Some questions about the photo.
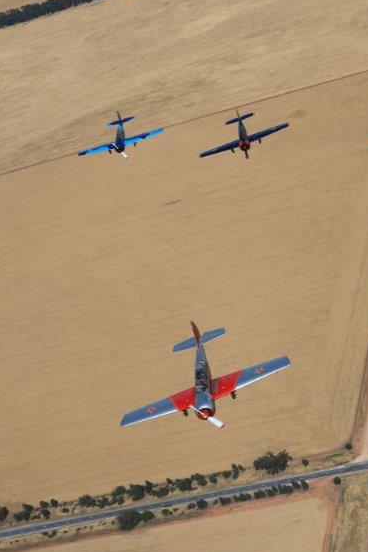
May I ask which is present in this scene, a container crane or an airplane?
airplane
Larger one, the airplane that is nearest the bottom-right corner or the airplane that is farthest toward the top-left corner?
the airplane that is nearest the bottom-right corner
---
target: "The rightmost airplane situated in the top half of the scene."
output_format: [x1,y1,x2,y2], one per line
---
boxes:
[199,107,289,157]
